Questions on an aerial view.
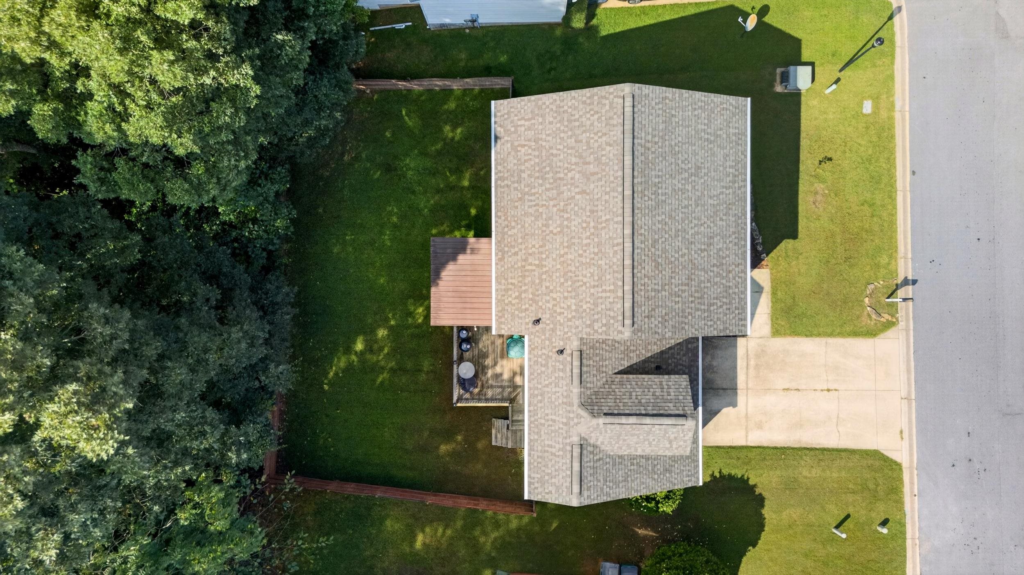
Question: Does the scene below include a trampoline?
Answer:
No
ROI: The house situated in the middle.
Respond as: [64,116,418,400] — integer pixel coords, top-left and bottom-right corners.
[489,83,751,508]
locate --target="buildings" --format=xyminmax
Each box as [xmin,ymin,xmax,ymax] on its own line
[489,83,751,508]
[325,0,567,30]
